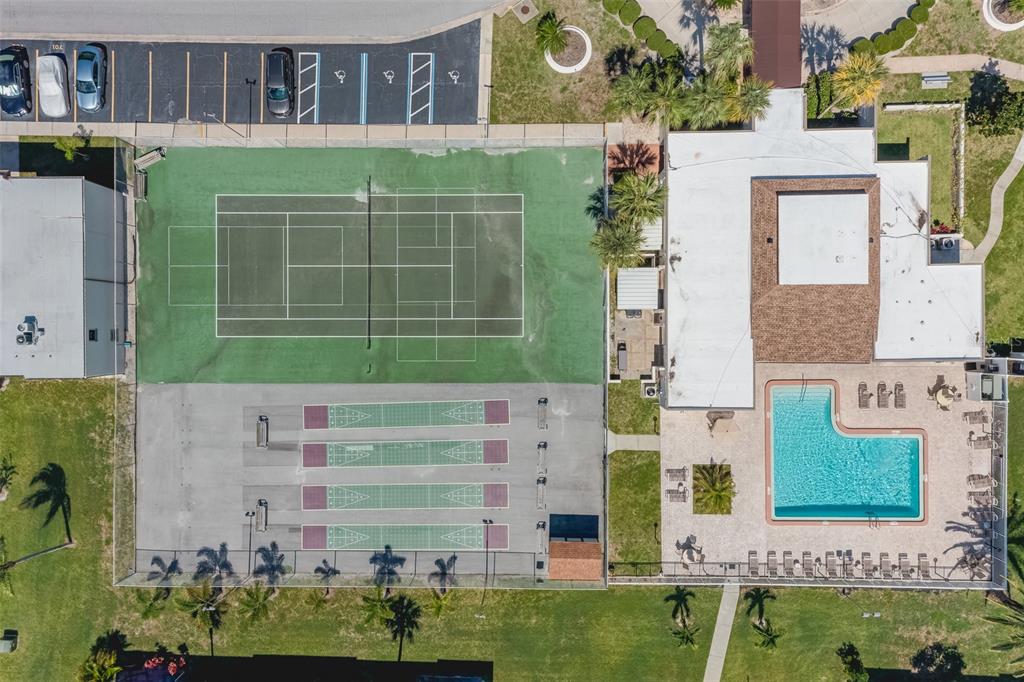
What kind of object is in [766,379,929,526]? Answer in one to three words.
swimming pool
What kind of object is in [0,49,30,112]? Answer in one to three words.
car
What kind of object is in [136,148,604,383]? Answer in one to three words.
tennis court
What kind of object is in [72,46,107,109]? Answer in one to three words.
car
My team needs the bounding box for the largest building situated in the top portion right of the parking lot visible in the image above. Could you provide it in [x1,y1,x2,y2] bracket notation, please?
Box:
[660,88,983,408]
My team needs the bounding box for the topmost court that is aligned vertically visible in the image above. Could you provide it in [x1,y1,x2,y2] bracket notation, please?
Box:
[397,188,476,361]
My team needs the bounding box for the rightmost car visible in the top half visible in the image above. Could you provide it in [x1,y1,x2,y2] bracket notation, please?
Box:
[264,48,296,112]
